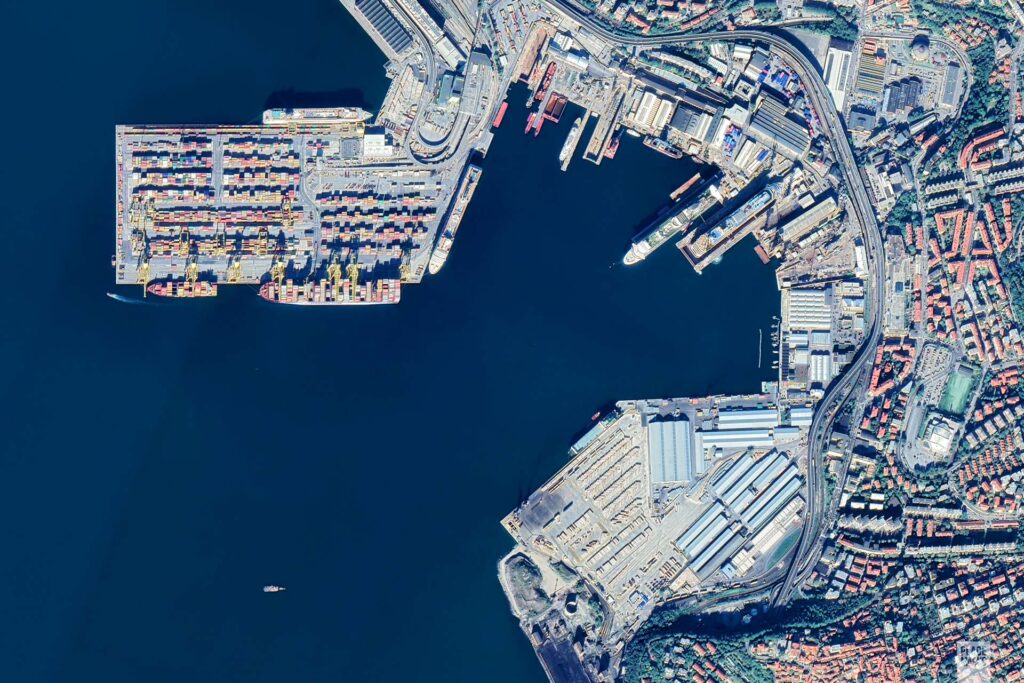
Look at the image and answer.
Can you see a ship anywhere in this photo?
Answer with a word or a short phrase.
Yes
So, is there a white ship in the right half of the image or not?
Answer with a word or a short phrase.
Yes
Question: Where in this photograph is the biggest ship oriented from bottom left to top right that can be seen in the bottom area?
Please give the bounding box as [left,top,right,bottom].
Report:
[569,408,618,453]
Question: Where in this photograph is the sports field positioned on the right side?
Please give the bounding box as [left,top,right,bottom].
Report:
[939,372,974,413]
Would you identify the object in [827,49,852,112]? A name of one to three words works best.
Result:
building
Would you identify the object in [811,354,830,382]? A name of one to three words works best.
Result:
building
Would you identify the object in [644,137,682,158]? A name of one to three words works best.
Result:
ship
